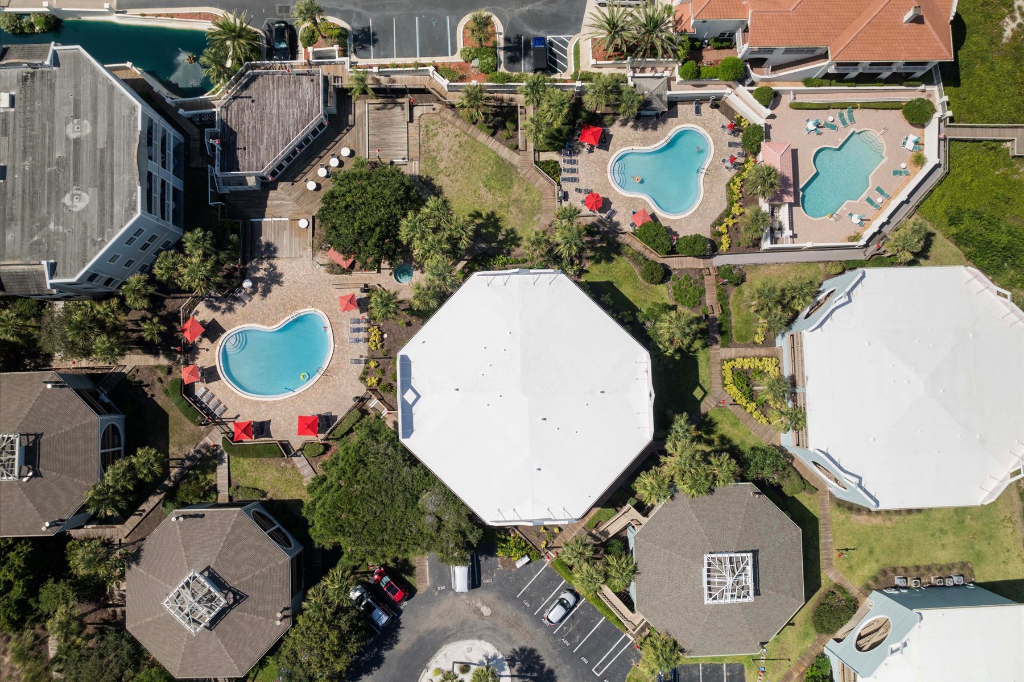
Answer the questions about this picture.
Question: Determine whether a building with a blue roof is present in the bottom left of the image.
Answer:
No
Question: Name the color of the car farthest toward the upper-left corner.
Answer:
black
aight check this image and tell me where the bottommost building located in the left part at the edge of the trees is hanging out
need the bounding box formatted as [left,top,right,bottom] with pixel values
[125,498,314,678]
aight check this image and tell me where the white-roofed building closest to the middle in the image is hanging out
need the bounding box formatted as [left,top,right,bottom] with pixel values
[394,268,658,530]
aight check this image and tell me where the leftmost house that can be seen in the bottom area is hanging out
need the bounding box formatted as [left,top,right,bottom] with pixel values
[0,364,132,536]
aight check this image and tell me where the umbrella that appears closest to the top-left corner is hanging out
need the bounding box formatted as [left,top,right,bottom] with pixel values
[182,318,205,341]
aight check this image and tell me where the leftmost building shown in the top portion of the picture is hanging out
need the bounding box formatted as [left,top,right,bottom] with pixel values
[0,41,182,292]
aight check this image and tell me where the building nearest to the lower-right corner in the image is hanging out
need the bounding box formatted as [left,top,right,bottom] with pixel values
[813,582,1024,682]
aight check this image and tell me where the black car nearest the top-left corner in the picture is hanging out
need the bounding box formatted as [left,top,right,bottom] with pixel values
[271,20,291,62]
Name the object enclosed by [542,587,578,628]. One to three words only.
car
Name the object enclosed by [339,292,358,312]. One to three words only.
umbrella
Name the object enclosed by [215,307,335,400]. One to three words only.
swimming pool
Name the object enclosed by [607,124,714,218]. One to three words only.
swimming pool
